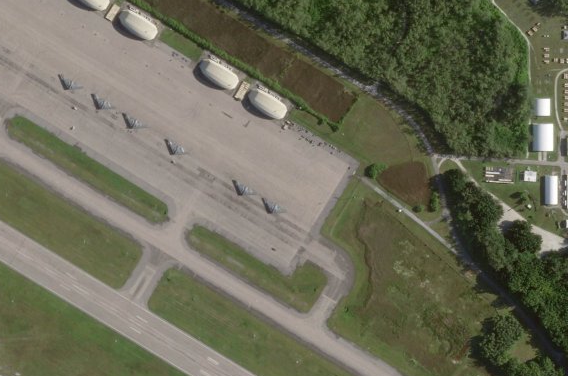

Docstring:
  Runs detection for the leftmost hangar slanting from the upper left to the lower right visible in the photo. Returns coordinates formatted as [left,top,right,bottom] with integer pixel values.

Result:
[119,8,158,40]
